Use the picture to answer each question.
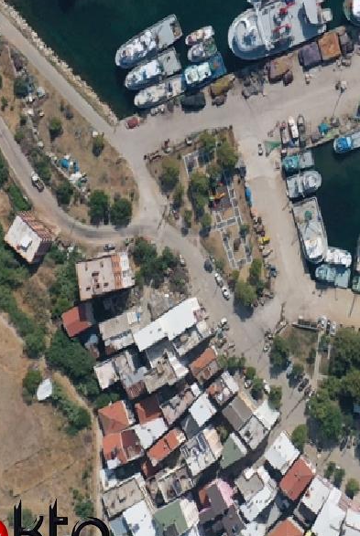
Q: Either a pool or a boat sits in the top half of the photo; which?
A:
boat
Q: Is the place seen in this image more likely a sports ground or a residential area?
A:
residential area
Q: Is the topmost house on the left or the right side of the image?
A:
left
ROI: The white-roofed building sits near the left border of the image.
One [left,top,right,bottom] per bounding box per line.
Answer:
[4,214,52,263]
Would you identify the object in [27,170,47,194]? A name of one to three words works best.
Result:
vehicle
